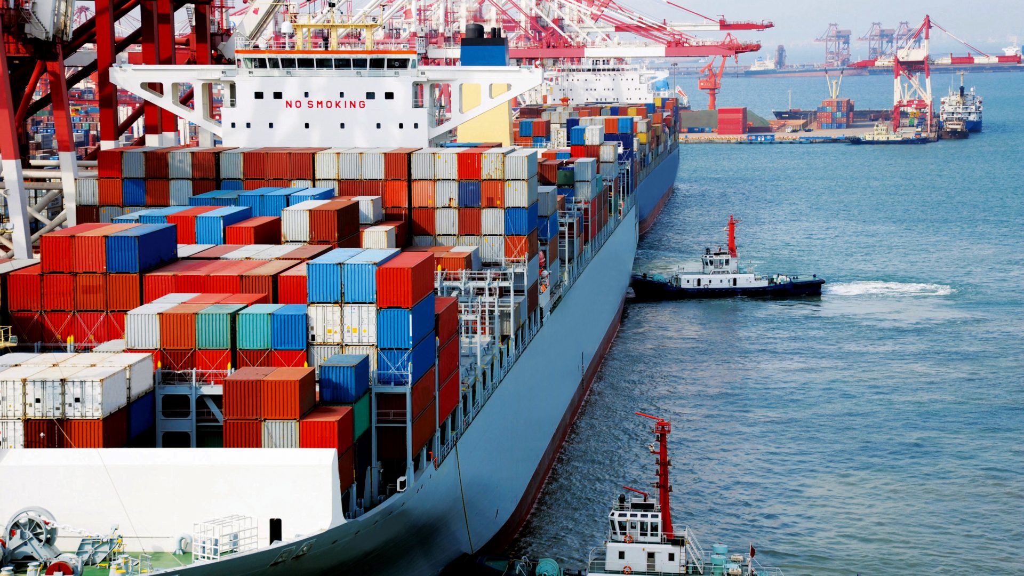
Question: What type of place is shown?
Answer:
port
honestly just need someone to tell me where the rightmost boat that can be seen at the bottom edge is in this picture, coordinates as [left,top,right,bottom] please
[453,411,802,576]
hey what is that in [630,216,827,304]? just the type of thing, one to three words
boat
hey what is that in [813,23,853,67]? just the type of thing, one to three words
crane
